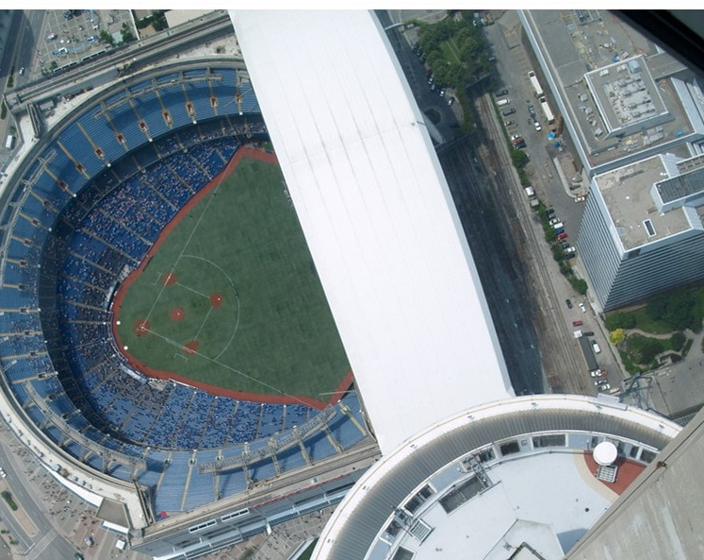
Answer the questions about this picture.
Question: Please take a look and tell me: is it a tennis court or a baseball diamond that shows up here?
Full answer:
The image shows a baseball diamond.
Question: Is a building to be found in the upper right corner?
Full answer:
Yes, a building can be seen in the upper right corner.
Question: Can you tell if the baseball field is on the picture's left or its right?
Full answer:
It is on the left.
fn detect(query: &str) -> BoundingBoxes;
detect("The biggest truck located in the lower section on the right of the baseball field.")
[576,329,600,371]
